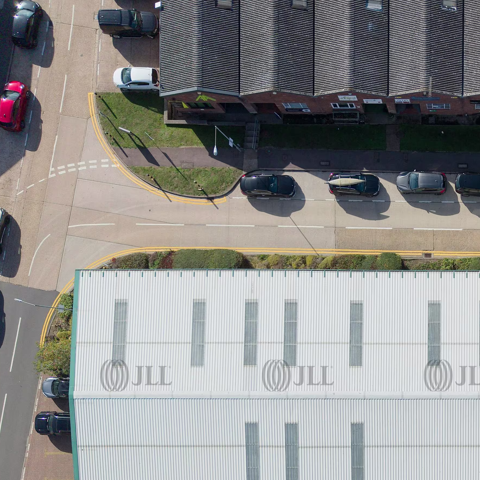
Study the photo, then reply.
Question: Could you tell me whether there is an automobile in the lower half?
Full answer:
Yes, an automobile is visible in the lower half.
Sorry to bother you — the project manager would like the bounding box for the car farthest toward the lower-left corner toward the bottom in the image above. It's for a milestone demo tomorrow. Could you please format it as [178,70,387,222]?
[35,409,69,438]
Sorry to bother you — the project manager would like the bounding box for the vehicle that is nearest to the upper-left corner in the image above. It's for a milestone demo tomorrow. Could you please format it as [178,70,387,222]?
[10,1,45,50]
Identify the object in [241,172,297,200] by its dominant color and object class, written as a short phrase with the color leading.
black car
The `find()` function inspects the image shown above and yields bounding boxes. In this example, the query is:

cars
[43,374,67,401]
[35,409,69,438]
[241,172,297,200]
[455,173,480,198]
[114,64,158,92]
[397,167,448,196]
[10,1,45,50]
[329,168,382,198]
[0,80,30,133]
[93,0,158,38]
